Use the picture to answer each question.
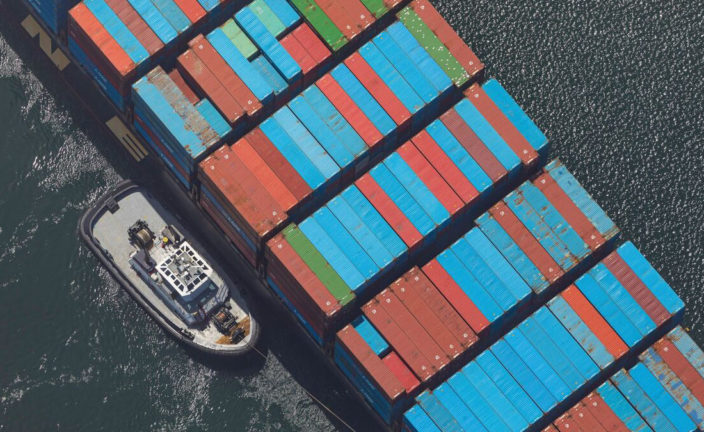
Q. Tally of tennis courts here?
0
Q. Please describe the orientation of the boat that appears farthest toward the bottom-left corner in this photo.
on a diagonal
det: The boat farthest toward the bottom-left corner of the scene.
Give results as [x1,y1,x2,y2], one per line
[77,185,258,359]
